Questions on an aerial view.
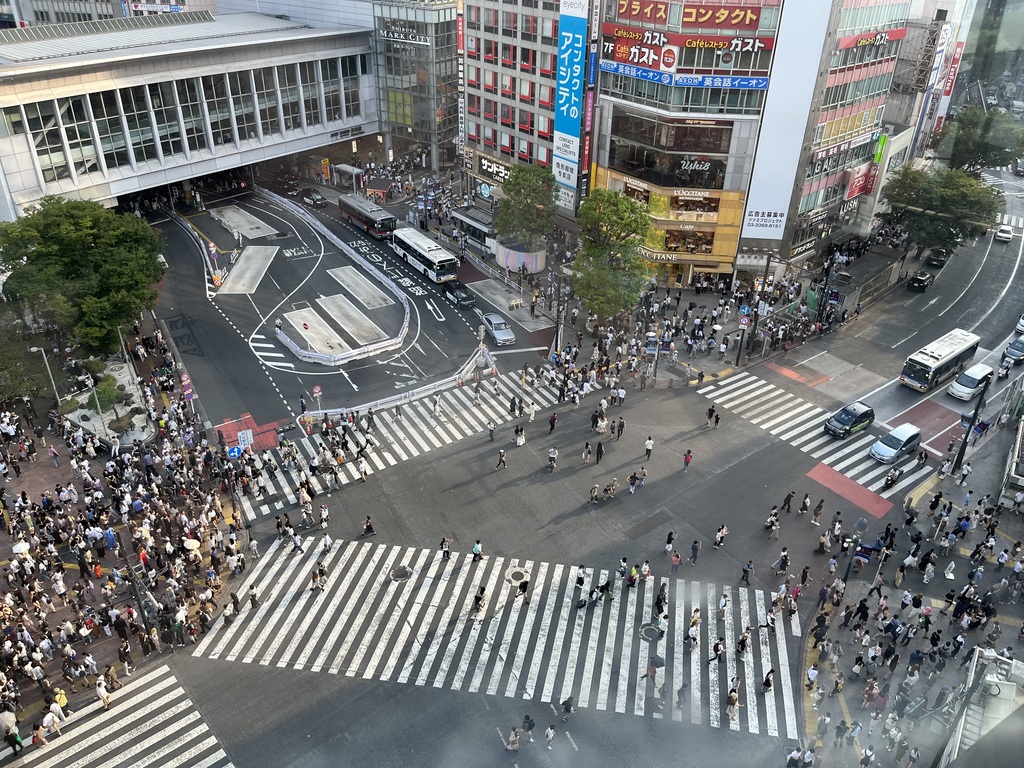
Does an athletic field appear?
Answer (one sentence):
No, no athletic field can be seen from above.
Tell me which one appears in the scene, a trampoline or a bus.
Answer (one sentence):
There is a bus in the scene.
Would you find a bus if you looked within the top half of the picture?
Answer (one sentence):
Yes, a bus shows up within the top half of the picture.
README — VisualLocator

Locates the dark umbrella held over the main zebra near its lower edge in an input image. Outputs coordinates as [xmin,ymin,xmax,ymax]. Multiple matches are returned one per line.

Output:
[651,650,676,672]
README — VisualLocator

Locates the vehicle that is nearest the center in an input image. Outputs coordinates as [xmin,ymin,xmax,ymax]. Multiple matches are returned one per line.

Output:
[477,311,518,344]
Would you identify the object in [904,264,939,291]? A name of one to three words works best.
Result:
car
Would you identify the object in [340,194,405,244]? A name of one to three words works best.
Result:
bus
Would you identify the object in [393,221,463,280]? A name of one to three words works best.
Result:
bus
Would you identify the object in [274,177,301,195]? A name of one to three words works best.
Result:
car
